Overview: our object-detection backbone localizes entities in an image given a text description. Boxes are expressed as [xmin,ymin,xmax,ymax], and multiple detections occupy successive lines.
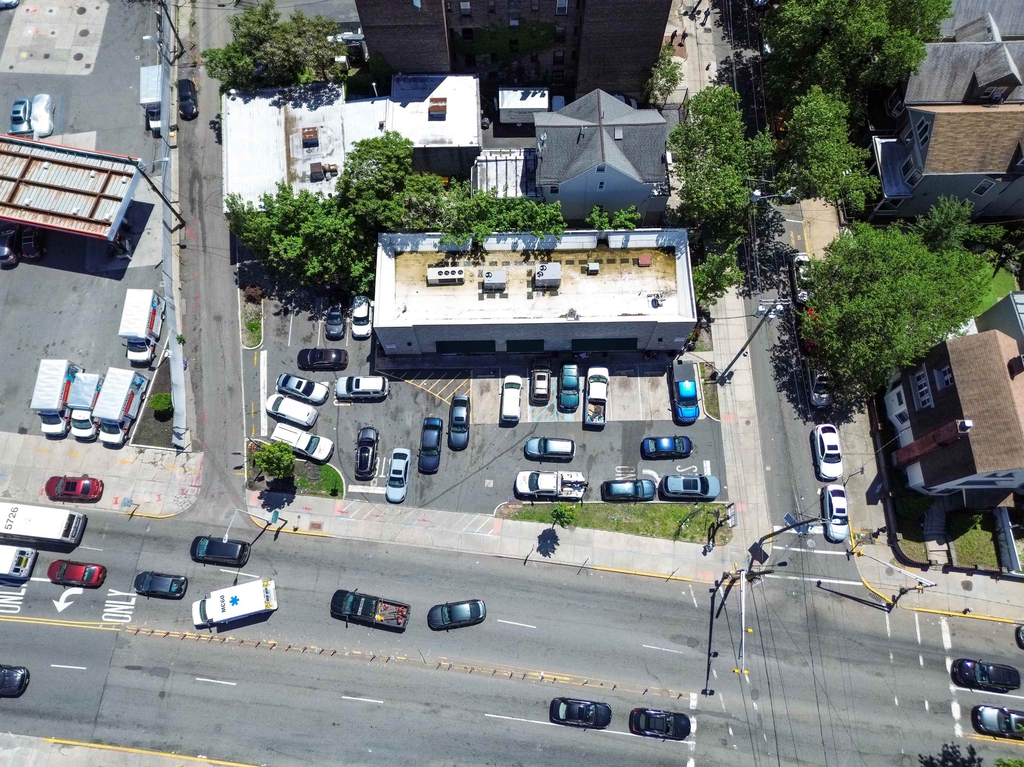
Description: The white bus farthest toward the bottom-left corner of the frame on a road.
[0,542,45,579]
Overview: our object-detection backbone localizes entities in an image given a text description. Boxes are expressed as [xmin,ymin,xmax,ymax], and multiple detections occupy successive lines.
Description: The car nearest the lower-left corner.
[0,664,33,695]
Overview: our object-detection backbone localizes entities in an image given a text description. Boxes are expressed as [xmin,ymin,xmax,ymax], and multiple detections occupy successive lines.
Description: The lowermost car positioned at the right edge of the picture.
[968,705,1024,739]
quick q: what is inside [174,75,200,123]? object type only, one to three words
car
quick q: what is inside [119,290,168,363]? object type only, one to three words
truck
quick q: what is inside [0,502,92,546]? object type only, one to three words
bus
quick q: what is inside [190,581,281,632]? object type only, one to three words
van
